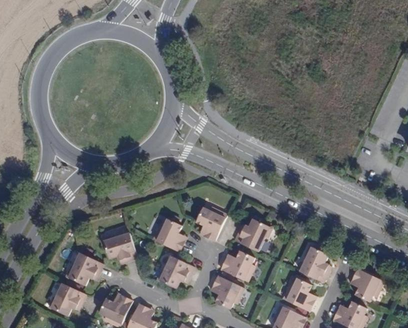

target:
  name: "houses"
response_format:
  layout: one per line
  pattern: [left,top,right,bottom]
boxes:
[160,256,192,287]
[128,303,160,328]
[197,207,229,239]
[70,252,104,284]
[104,232,136,261]
[222,251,258,281]
[211,276,244,308]
[52,283,86,313]
[157,219,188,248]
[333,301,369,328]
[286,278,317,310]
[300,248,332,282]
[239,220,270,250]
[274,306,308,328]
[99,291,130,324]
[352,269,384,303]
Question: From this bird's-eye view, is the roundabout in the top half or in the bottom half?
top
